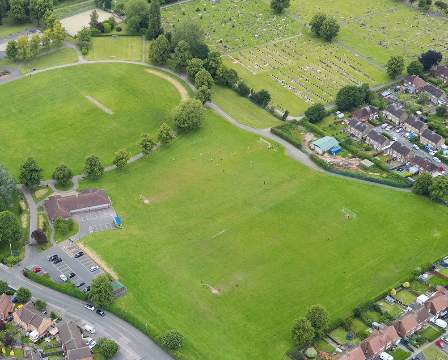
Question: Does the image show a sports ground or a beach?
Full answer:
What you see here is a sports ground.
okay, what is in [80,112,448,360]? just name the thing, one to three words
sports field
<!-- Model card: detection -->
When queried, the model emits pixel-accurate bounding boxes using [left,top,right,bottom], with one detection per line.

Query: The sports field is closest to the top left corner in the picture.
[83,36,142,60]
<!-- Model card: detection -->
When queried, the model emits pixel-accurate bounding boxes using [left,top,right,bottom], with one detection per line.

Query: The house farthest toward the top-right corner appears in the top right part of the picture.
[428,67,448,91]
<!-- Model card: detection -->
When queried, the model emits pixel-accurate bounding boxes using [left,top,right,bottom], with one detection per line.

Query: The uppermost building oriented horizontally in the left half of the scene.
[45,192,118,231]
